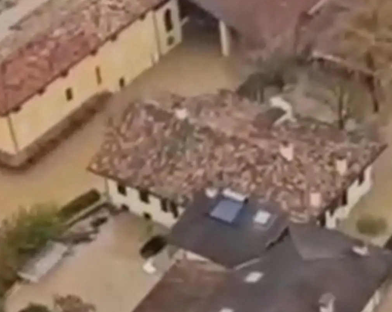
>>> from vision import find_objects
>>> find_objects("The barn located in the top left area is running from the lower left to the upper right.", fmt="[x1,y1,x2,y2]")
[0,0,174,155]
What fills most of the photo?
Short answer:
buildings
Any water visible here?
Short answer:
Yes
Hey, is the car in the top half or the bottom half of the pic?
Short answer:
bottom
